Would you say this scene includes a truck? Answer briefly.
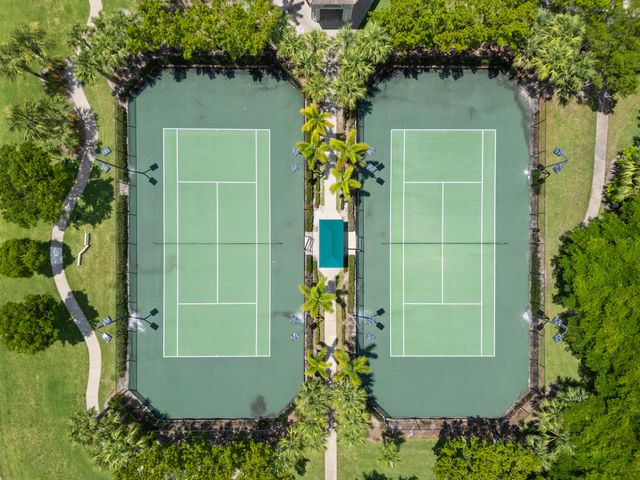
No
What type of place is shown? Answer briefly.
sports ground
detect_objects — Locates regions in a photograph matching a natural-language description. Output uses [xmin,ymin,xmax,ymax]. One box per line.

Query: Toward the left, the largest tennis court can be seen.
[129,69,304,418]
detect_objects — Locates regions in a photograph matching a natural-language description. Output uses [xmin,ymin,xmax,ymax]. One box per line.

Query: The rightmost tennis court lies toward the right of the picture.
[357,69,531,418]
